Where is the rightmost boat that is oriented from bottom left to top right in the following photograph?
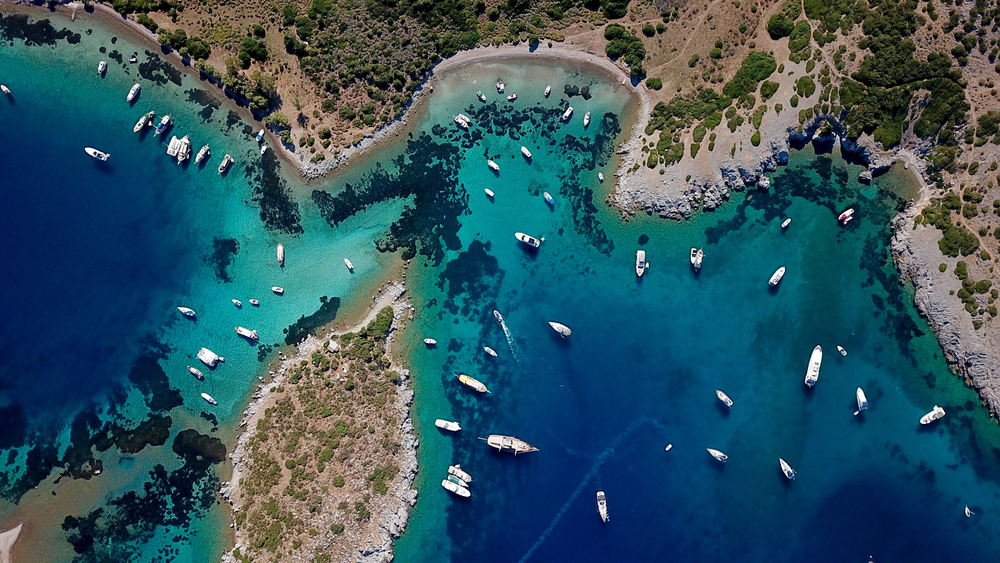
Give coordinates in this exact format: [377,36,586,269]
[918,404,944,423]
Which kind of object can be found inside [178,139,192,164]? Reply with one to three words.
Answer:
boat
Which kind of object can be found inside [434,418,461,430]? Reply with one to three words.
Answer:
boat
